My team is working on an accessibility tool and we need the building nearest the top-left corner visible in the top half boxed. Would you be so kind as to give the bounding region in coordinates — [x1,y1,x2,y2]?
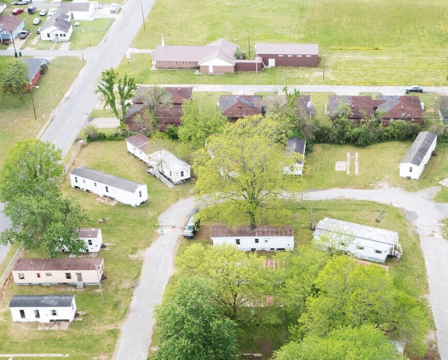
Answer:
[0,10,29,43]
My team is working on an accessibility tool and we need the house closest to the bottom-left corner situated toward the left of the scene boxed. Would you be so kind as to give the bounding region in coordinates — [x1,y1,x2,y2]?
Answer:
[7,295,74,322]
